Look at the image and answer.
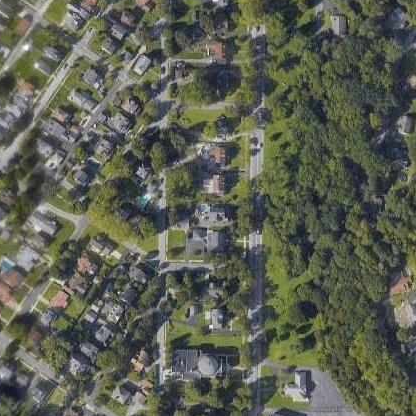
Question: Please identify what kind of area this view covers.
residential area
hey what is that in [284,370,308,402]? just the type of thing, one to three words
barn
